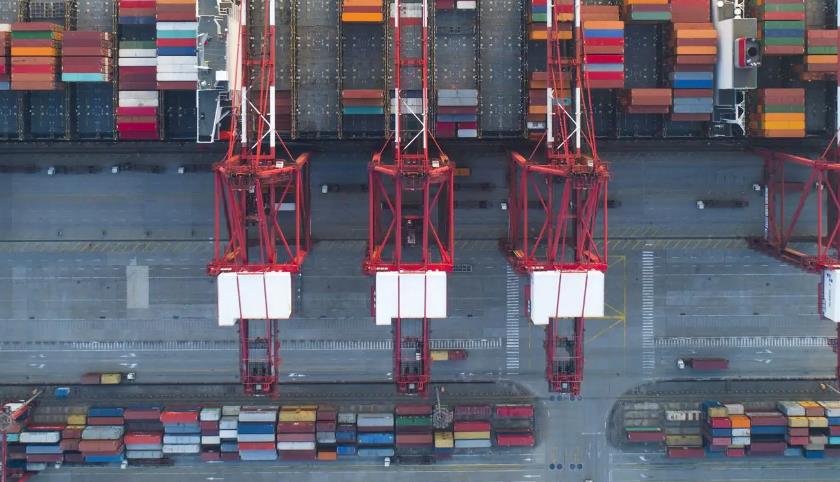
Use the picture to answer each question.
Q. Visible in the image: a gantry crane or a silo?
gantry crane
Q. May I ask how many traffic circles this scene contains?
0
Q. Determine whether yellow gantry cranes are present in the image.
No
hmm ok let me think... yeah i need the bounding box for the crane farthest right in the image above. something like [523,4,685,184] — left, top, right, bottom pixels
[743,0,840,390]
